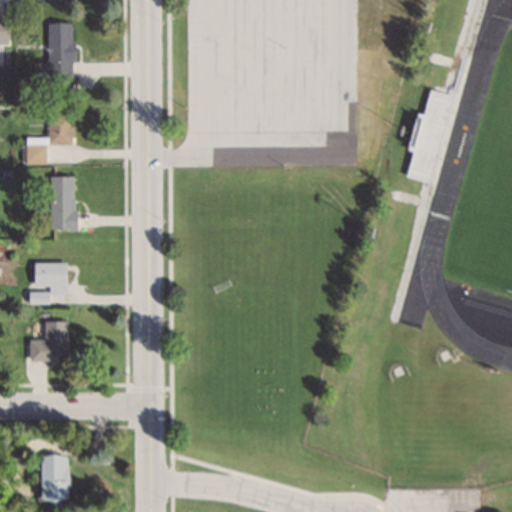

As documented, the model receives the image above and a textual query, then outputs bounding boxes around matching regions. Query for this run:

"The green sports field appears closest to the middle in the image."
[174,168,378,488]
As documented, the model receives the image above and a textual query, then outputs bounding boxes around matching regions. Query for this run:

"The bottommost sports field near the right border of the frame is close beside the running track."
[382,330,512,487]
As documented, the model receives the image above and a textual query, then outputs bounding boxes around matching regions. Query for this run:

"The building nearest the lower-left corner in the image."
[41,455,70,503]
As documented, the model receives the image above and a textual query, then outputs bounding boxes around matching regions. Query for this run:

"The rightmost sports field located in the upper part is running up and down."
[444,26,512,298]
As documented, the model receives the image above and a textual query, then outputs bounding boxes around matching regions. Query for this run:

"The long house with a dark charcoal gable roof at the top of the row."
[47,22,76,78]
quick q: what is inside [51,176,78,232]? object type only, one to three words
house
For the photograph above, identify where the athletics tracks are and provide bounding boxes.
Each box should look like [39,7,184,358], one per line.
[402,0,512,370]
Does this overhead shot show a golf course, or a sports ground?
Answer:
sports ground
